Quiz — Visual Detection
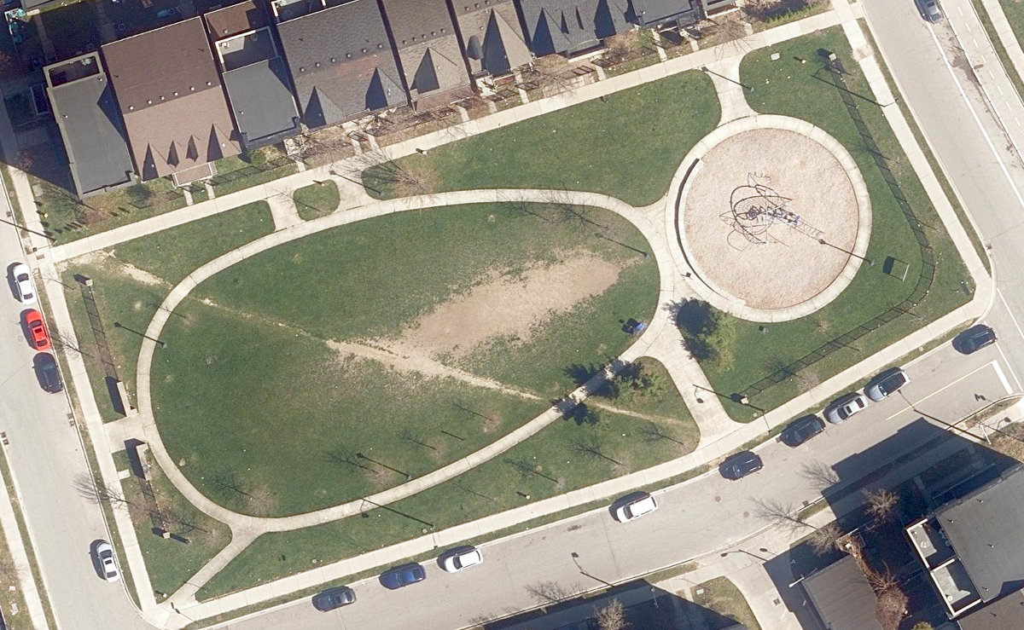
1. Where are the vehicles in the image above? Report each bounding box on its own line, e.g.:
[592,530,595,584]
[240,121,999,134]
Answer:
[786,417,827,448]
[27,309,50,351]
[97,541,119,583]
[916,0,942,23]
[444,549,484,572]
[615,496,660,523]
[38,355,61,395]
[13,263,37,305]
[955,325,997,355]
[385,566,426,590]
[871,370,912,401]
[829,396,870,426]
[724,452,765,482]
[316,589,358,613]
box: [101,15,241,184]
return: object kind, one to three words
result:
house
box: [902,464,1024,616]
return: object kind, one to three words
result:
house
